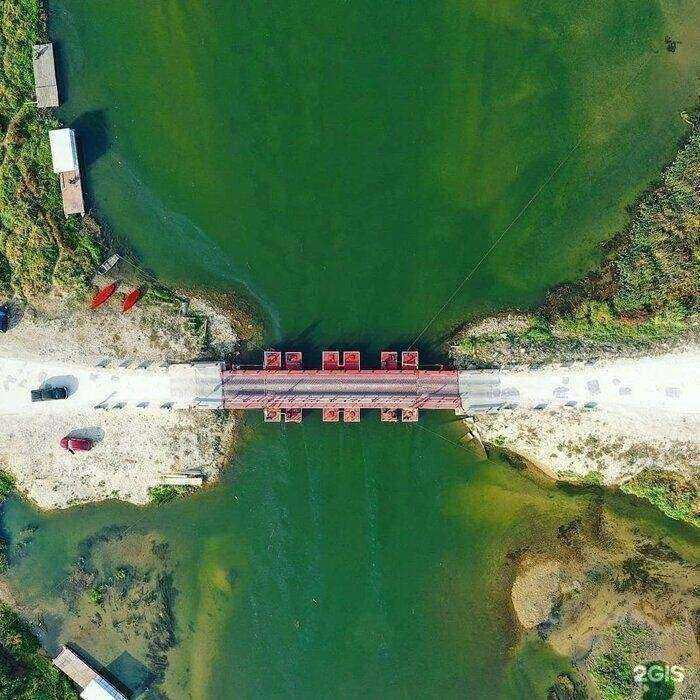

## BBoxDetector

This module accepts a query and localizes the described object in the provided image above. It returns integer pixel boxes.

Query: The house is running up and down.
[50,122,86,218]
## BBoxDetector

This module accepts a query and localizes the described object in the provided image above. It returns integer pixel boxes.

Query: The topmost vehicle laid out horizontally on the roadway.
[28,386,68,401]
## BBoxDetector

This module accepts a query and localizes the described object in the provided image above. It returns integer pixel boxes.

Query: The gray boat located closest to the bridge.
[96,252,118,275]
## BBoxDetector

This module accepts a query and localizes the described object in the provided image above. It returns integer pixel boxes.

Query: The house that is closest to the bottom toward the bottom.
[50,641,120,700]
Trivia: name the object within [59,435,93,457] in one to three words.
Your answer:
car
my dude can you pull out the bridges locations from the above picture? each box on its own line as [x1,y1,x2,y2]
[221,351,461,422]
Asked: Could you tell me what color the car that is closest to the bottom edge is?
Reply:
red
